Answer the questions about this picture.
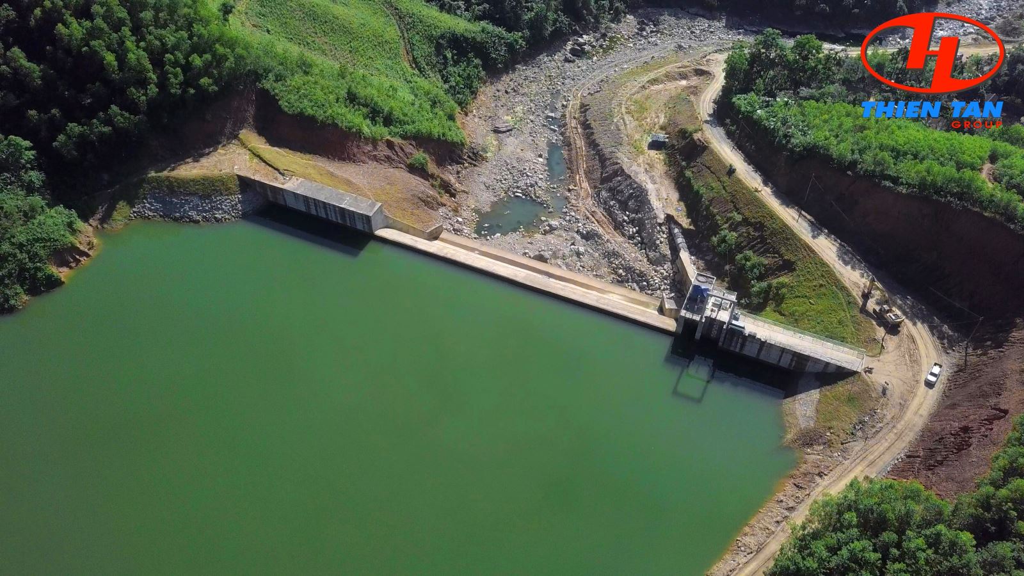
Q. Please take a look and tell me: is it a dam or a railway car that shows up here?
dam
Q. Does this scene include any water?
Yes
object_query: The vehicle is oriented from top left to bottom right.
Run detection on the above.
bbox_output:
[863,283,913,328]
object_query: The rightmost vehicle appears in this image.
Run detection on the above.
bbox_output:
[925,359,946,384]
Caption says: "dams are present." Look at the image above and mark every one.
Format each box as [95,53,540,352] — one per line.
[373,225,680,335]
